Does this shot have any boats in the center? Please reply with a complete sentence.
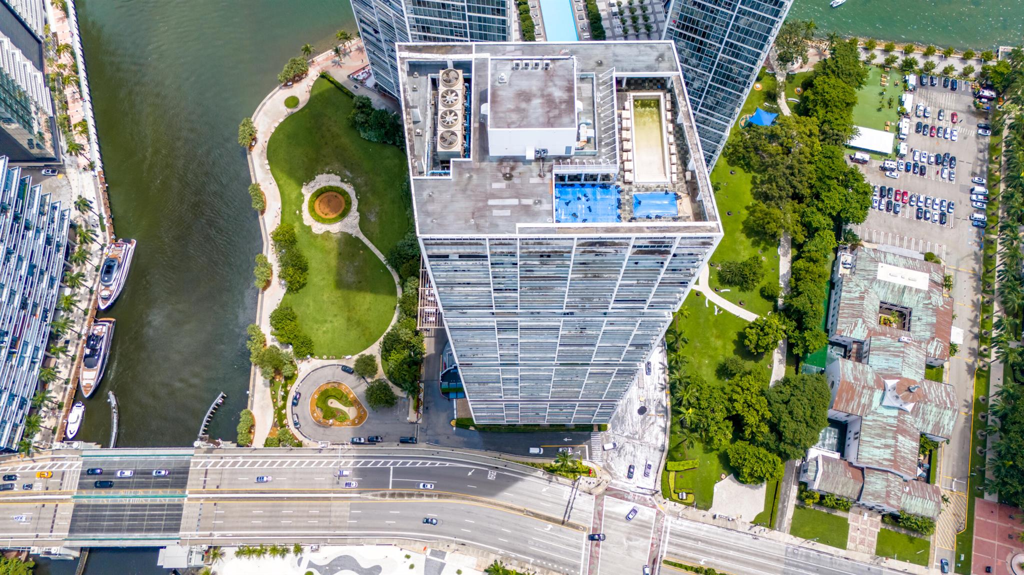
No, the scene shows no boat in the center.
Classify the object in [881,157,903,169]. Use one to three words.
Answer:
vehicle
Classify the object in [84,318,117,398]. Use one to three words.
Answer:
boat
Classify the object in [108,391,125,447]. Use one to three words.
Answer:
pier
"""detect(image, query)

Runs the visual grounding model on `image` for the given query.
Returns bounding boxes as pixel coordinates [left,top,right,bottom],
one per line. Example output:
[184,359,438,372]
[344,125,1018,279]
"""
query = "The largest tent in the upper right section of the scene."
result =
[846,126,894,157]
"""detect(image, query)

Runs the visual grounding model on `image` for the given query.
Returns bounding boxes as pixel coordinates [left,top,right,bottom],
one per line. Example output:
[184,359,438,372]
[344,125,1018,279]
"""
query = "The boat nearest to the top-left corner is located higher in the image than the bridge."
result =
[100,238,134,309]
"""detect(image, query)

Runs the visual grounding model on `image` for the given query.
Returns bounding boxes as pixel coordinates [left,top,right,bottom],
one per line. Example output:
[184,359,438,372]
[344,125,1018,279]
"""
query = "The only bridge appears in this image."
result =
[0,436,359,562]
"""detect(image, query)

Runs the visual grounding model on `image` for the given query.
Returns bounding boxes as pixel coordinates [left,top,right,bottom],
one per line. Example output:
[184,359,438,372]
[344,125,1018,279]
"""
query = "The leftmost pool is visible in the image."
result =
[539,0,579,41]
